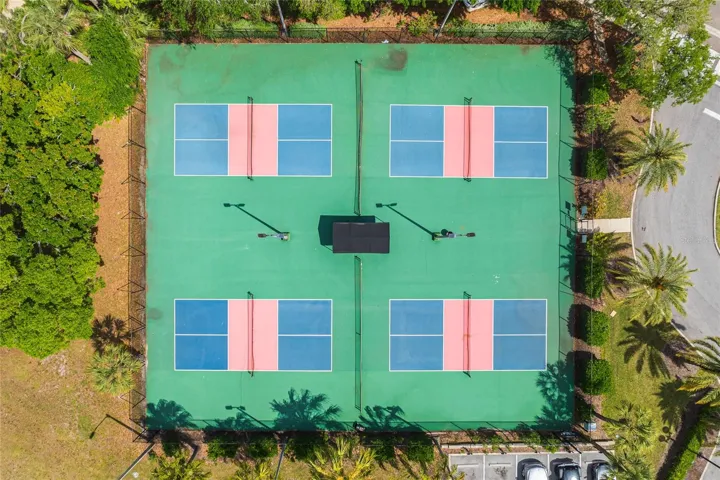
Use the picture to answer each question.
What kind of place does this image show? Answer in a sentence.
This looks like a sports ground.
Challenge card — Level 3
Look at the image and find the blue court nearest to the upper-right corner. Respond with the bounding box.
[390,105,548,179]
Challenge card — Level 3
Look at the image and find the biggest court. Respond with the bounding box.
[145,41,577,432]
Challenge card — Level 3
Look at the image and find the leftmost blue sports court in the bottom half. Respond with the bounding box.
[174,299,332,371]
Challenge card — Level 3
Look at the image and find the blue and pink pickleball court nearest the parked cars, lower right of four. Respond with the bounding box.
[390,299,548,371]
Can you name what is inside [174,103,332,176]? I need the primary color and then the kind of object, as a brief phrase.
blue sports court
